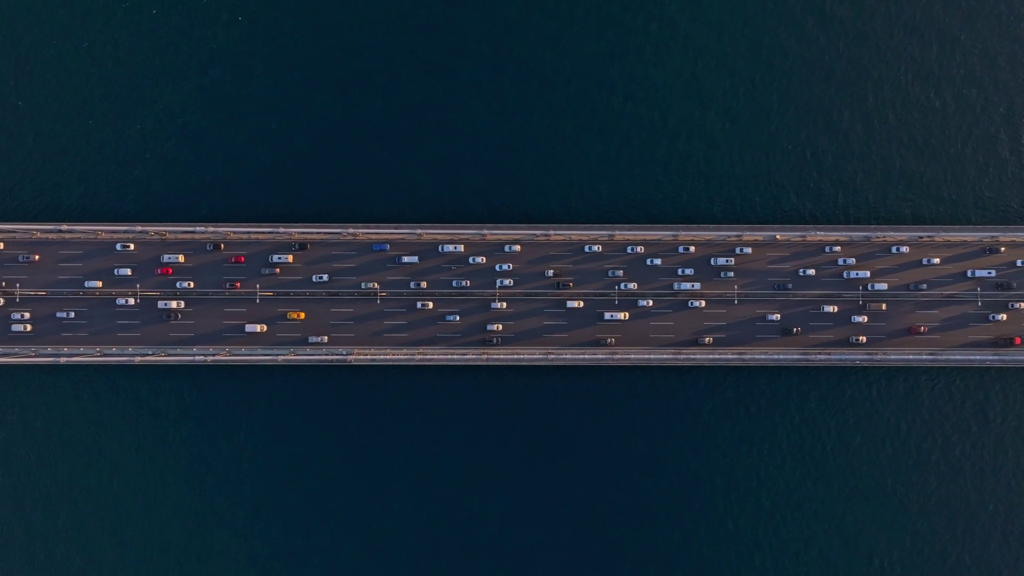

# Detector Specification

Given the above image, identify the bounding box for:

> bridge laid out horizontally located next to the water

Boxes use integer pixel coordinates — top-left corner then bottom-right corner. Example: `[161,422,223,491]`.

[0,222,1024,366]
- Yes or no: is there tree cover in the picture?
No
